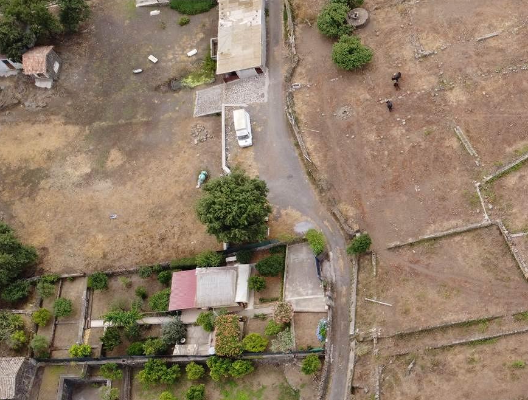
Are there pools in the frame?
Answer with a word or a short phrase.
No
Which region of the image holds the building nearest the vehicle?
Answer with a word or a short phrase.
top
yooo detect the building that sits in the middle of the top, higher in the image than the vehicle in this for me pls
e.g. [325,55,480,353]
[217,0,267,84]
